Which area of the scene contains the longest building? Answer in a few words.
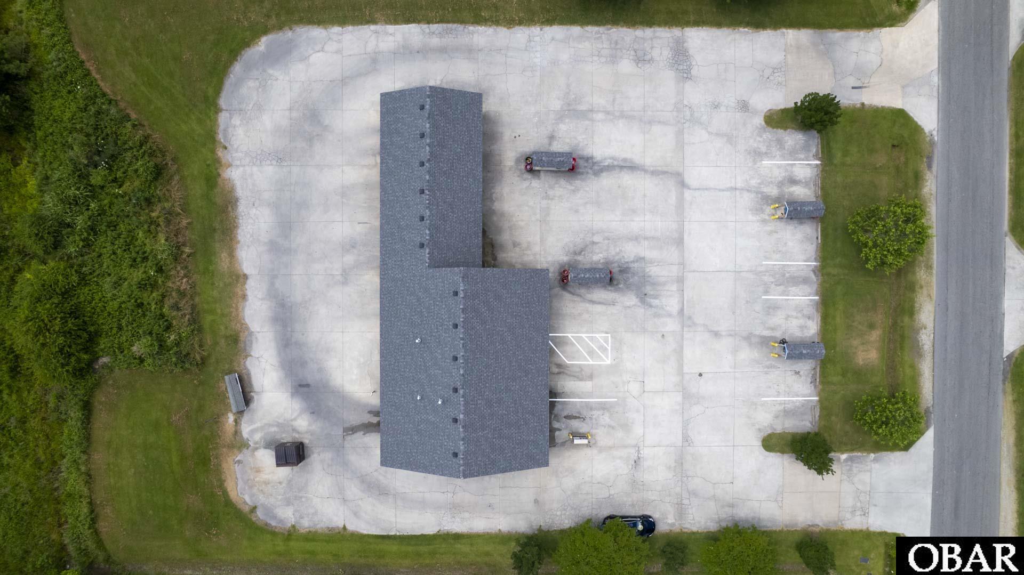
center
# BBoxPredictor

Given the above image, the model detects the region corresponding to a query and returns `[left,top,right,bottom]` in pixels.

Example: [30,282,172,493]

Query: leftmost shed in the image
[224,374,251,414]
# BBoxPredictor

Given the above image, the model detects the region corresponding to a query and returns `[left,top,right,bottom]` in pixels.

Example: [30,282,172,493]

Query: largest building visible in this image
[380,86,549,479]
